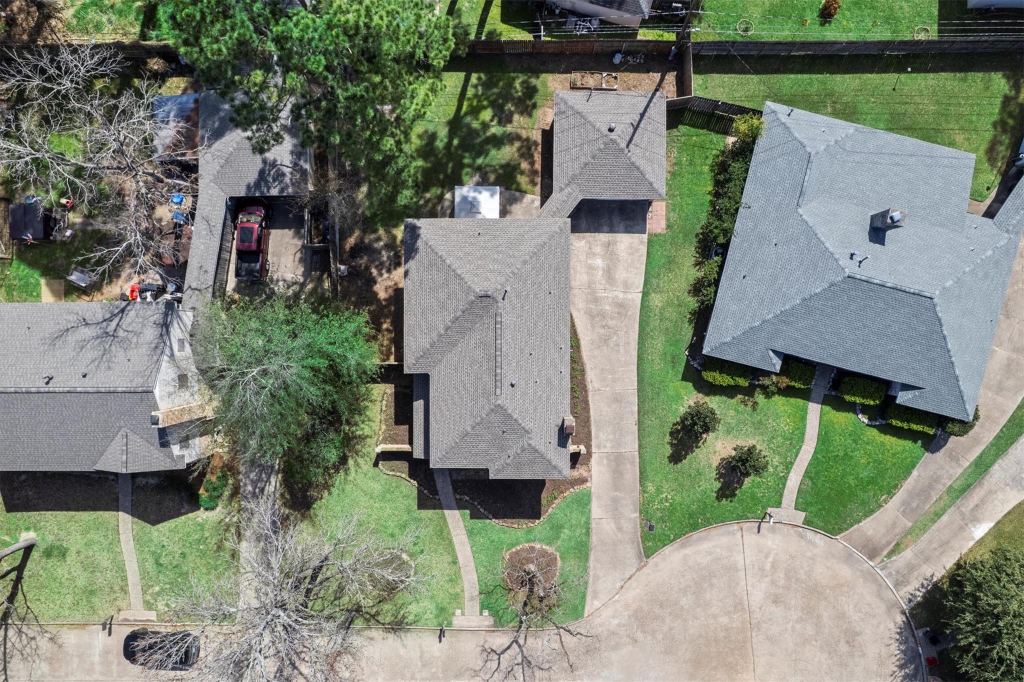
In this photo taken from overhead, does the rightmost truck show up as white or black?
black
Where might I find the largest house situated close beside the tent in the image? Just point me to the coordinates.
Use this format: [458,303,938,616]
[402,216,579,480]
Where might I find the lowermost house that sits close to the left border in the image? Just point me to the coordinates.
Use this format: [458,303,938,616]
[0,301,227,477]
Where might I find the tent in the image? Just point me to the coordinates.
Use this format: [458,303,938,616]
[455,186,500,218]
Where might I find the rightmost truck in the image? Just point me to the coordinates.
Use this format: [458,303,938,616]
[234,196,276,287]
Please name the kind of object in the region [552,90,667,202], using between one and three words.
building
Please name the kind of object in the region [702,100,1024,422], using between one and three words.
house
